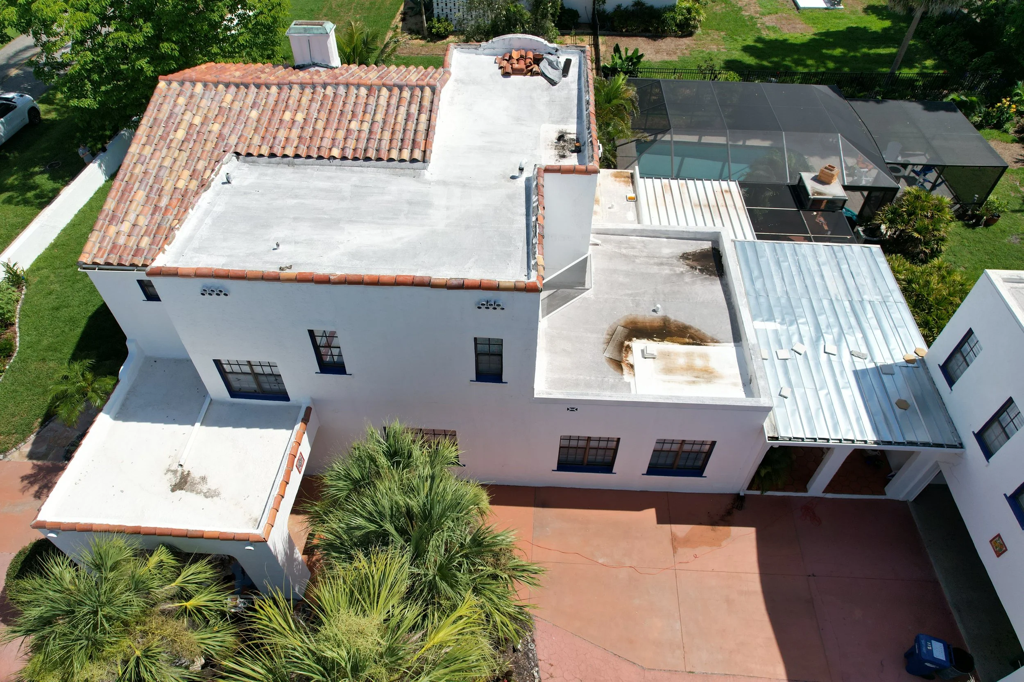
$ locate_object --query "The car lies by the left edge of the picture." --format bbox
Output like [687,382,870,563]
[0,97,41,141]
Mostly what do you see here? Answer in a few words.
buildings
